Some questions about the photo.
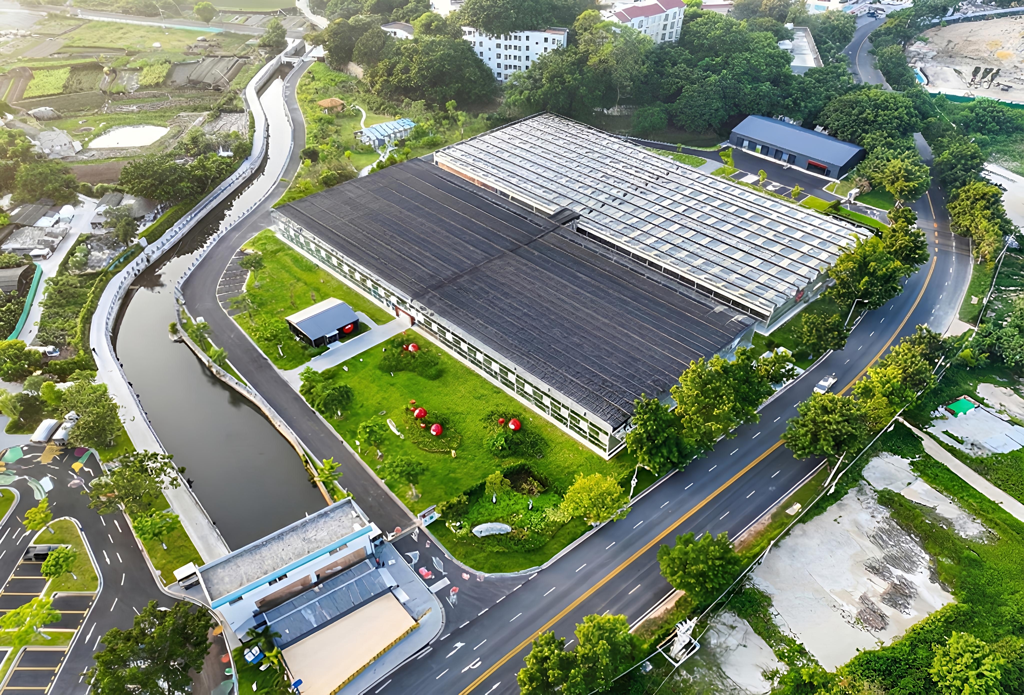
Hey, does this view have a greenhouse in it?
Yes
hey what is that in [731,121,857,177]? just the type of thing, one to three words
shed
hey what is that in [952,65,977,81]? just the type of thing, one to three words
work vehicle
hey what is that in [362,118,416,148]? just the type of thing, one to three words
building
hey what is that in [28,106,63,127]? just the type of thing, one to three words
shed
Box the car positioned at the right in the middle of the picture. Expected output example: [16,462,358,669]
[816,375,838,392]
